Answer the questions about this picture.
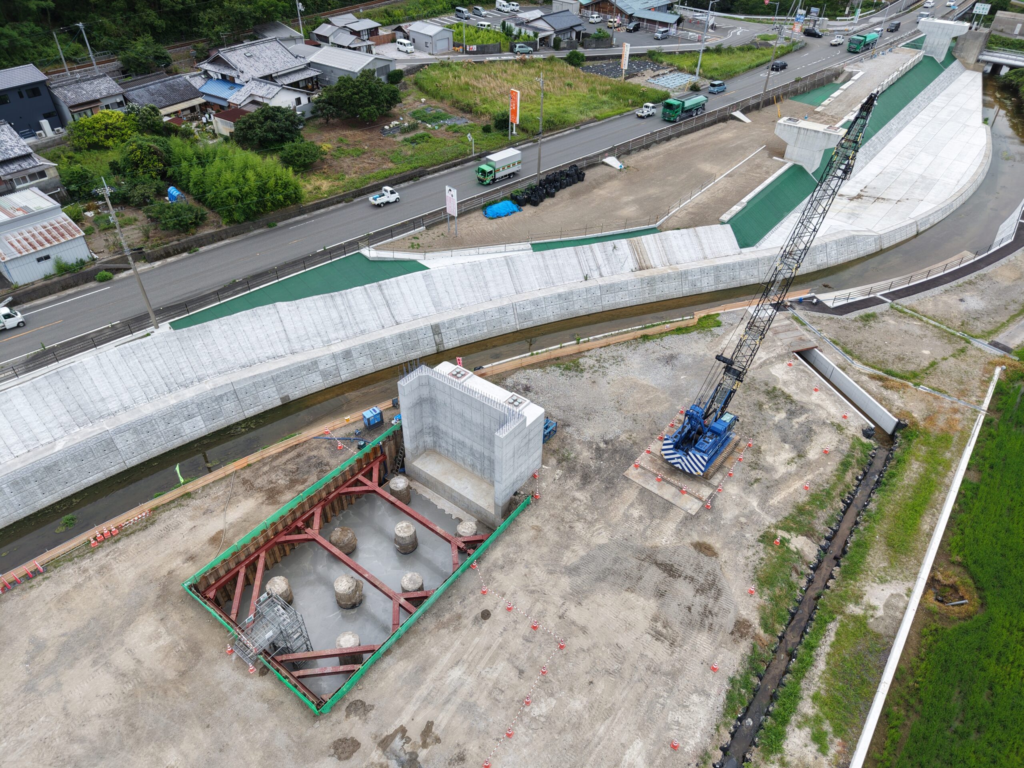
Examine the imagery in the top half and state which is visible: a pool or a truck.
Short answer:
truck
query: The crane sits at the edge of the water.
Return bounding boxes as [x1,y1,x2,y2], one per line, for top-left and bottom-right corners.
[660,76,890,480]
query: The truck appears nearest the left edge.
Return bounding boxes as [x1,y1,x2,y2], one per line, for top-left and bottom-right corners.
[0,300,24,325]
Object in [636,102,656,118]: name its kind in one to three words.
vehicle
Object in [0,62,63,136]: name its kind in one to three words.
house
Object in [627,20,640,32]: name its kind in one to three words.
vehicle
